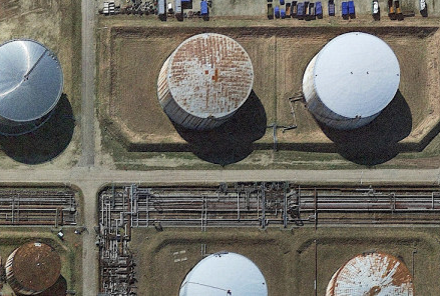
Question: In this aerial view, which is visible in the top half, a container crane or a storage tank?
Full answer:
What appears in the top half is a storage tank.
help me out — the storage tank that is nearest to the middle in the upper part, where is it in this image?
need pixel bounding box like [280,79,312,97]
[156,32,254,132]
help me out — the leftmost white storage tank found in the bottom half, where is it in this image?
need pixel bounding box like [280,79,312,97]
[169,252,267,296]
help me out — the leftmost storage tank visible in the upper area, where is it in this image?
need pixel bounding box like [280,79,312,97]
[0,39,64,134]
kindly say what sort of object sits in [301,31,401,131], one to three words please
storage tank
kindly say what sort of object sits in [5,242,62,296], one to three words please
storage tank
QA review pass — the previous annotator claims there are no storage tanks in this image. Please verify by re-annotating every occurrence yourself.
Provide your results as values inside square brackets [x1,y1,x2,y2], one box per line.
[324,250,416,296]
[169,252,267,296]
[156,32,254,132]
[5,242,62,296]
[301,31,401,131]
[0,39,64,134]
